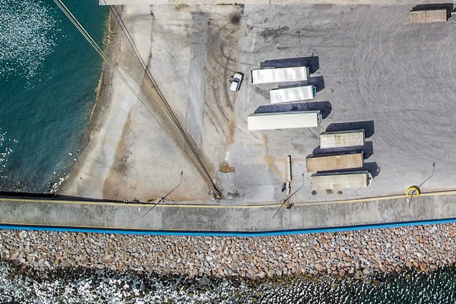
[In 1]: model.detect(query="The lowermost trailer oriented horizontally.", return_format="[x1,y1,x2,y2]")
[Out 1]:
[311,168,372,190]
